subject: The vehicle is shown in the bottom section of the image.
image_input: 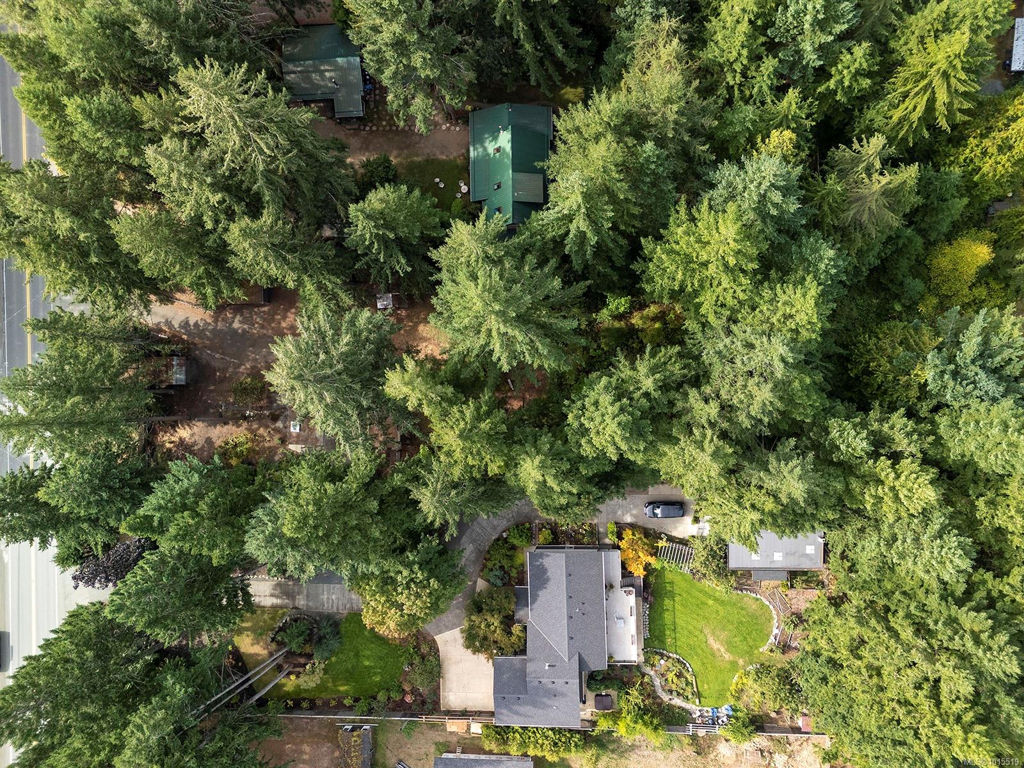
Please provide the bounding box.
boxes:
[645,501,686,520]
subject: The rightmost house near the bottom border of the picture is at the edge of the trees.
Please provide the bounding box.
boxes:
[494,543,643,730]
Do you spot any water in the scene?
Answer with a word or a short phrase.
No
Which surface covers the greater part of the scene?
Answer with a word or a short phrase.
trees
